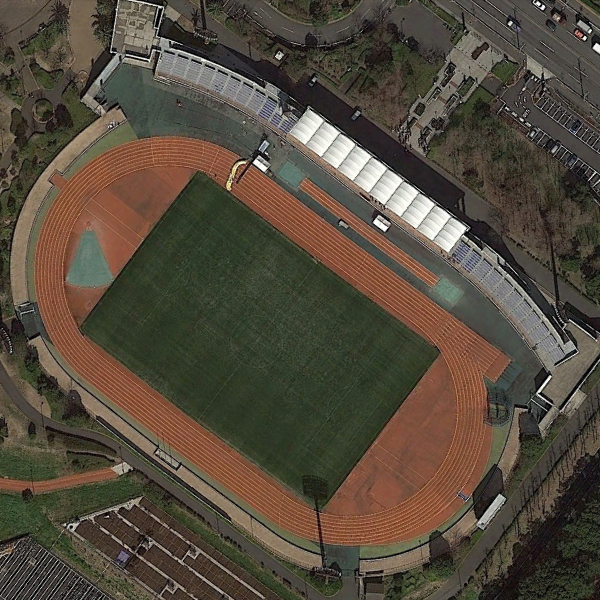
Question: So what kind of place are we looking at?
sports ground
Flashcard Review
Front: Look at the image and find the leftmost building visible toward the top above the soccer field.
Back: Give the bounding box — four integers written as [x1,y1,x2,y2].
[111,0,166,72]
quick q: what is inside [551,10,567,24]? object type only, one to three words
vehicle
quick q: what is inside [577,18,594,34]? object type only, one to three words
vehicle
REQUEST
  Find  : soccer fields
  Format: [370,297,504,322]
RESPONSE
[82,172,440,505]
